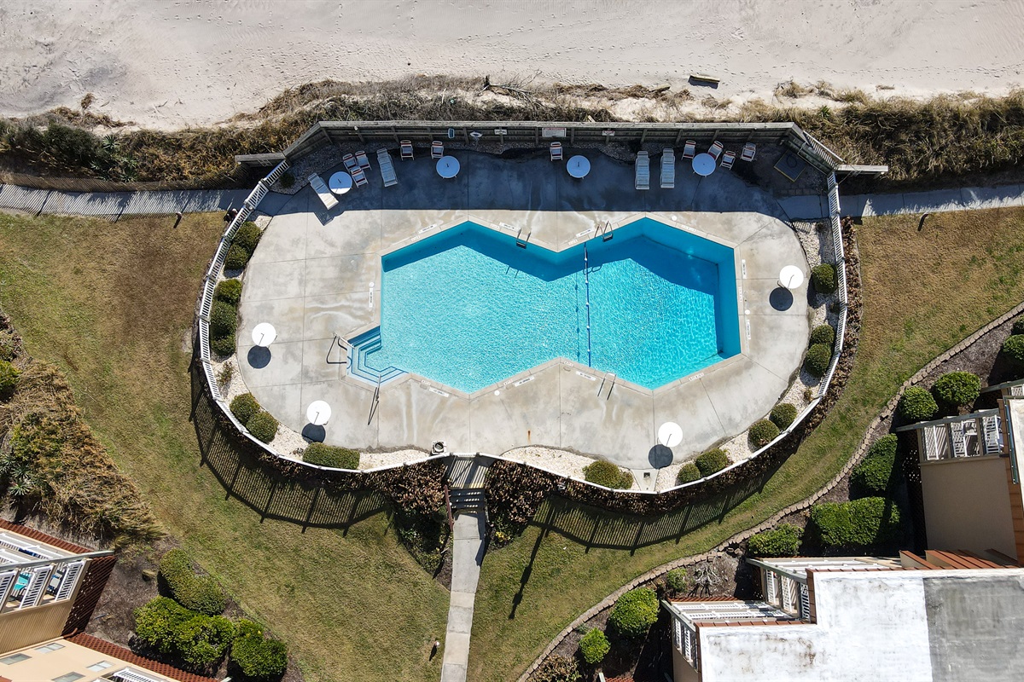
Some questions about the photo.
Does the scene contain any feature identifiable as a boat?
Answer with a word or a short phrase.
No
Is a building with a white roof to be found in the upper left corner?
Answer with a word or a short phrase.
No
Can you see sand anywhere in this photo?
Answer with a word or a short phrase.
Yes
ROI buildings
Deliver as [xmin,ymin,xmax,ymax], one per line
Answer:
[598,380,1024,682]
[0,519,230,682]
